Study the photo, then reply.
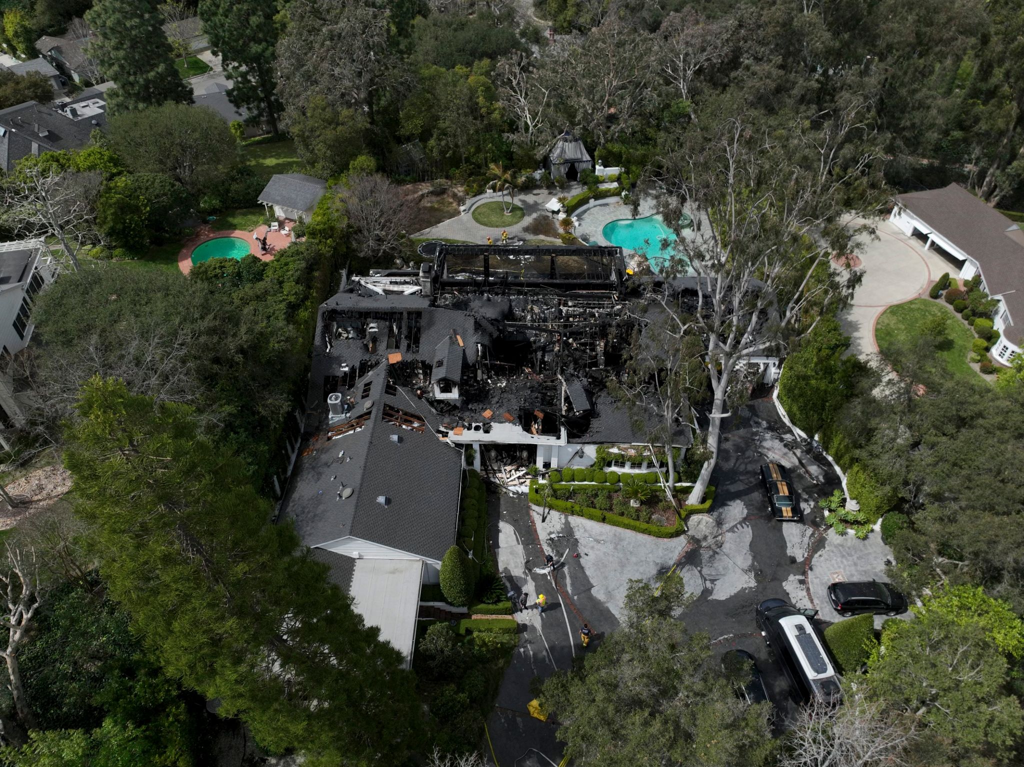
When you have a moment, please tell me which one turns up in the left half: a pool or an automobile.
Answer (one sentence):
Visible in the left half is a pool.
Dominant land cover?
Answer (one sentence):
The bulk of the photo consists of trees.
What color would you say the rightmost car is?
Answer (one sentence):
The color of the rightmost car is black.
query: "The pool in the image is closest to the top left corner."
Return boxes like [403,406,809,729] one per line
[186,235,254,276]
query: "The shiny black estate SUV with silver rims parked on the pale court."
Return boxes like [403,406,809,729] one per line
[825,580,912,619]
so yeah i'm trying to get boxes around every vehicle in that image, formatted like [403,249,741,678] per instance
[722,654,788,742]
[804,434,820,449]
[759,463,802,522]
[825,580,912,619]
[757,595,849,731]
